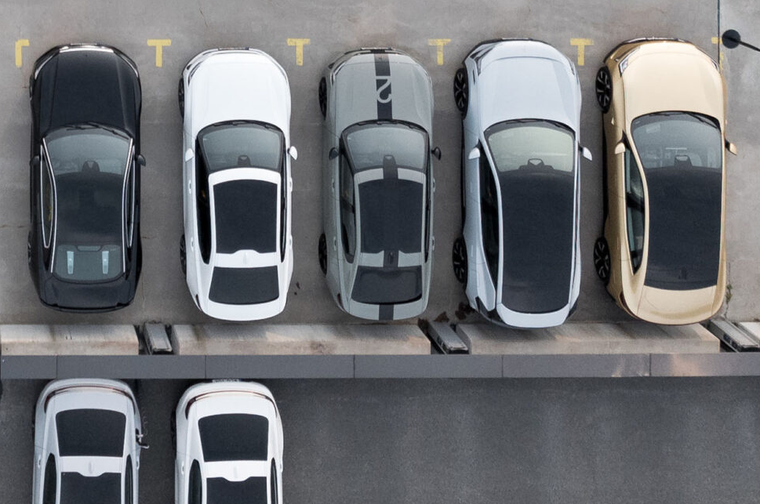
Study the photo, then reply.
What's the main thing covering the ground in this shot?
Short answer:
paved ground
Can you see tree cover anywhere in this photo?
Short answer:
No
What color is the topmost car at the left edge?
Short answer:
black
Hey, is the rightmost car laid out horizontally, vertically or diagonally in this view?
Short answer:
vertically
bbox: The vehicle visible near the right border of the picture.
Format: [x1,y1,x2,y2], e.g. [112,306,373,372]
[594,36,736,324]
